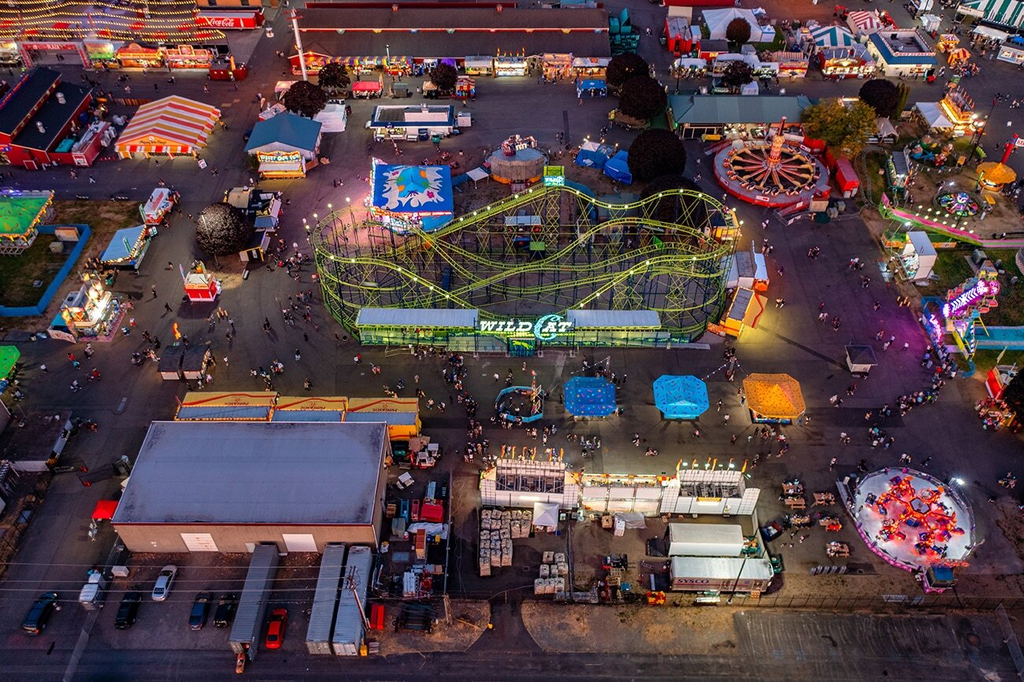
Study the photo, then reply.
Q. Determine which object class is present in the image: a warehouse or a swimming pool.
warehouse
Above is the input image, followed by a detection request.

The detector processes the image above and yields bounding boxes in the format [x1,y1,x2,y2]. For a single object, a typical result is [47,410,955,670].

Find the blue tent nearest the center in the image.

[561,376,620,423]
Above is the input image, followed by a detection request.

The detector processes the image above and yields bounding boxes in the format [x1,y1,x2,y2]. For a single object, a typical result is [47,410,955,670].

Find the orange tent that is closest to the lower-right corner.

[738,378,813,424]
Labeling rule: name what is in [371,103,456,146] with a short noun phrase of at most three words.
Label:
building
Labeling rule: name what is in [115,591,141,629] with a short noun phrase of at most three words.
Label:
car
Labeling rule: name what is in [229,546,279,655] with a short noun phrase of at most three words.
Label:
trailer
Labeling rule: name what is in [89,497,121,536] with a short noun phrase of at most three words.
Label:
tent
